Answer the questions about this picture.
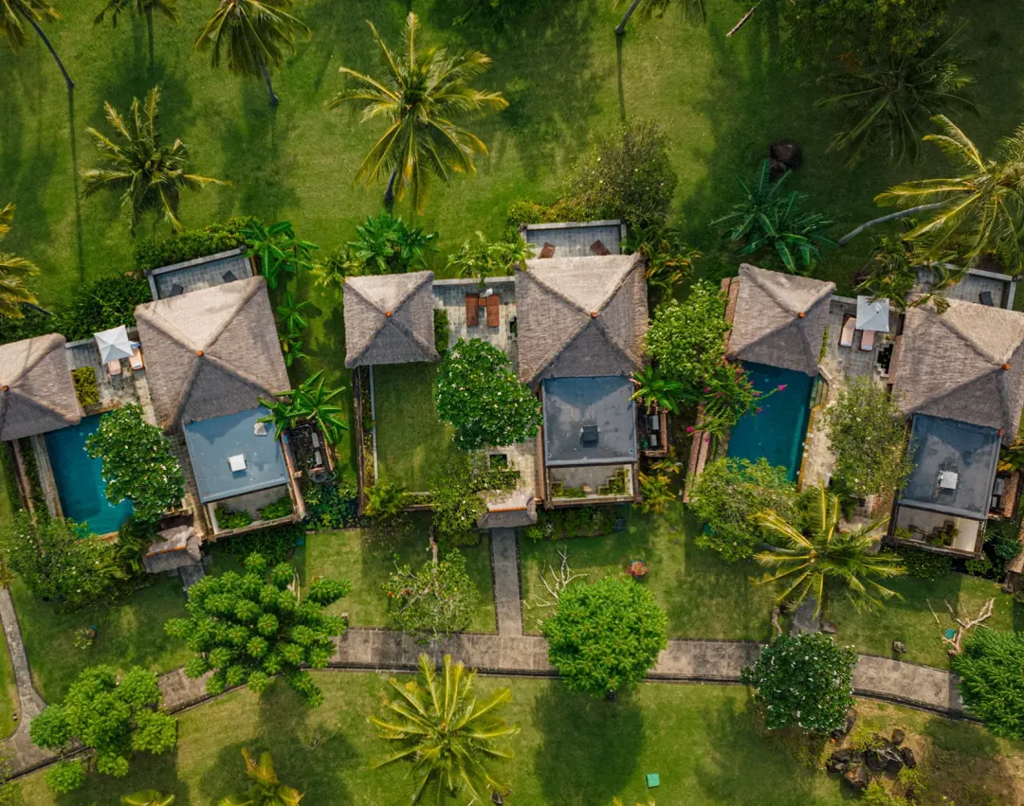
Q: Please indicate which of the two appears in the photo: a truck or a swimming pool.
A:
swimming pool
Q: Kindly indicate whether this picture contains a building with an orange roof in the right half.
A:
No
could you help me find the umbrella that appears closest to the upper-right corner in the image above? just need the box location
[853,295,889,332]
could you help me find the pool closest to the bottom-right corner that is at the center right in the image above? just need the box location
[719,360,831,491]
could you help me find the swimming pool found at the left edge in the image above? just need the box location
[44,410,130,541]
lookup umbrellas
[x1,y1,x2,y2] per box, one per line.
[94,325,134,364]
[853,295,889,332]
